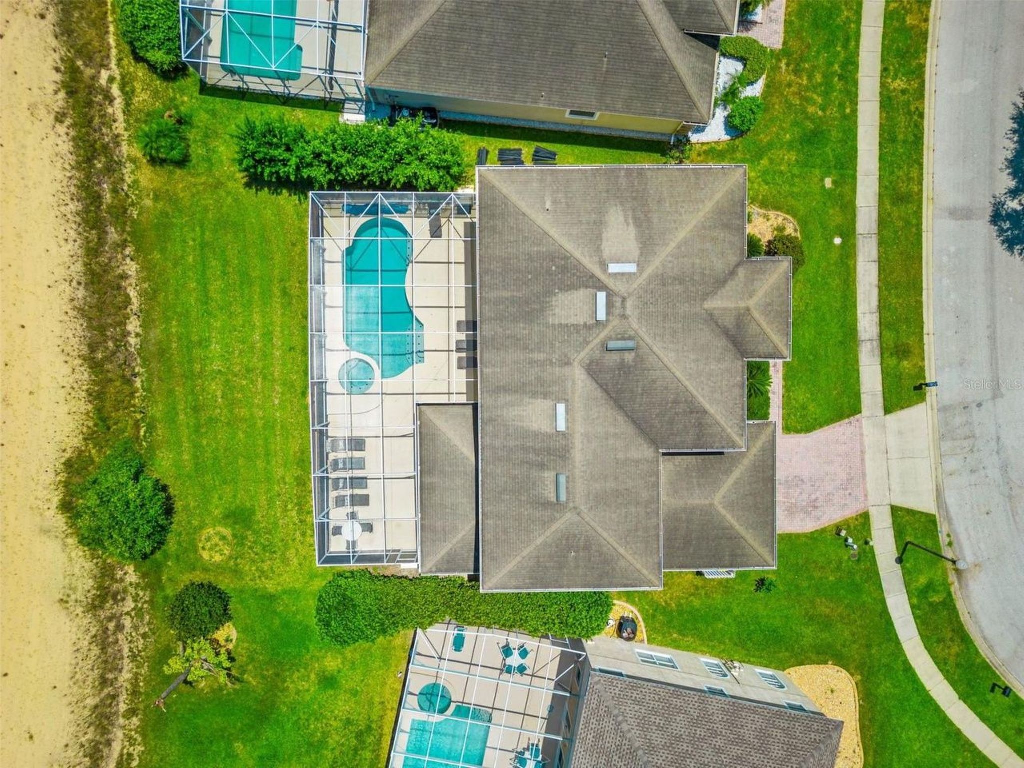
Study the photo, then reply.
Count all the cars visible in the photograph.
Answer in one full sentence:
I count no cars.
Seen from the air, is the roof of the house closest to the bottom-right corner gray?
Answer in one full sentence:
Yes, the roof of the house closest to the bottom-right corner appears gray.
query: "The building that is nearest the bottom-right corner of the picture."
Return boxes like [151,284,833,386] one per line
[563,637,845,768]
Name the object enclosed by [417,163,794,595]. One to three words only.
house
